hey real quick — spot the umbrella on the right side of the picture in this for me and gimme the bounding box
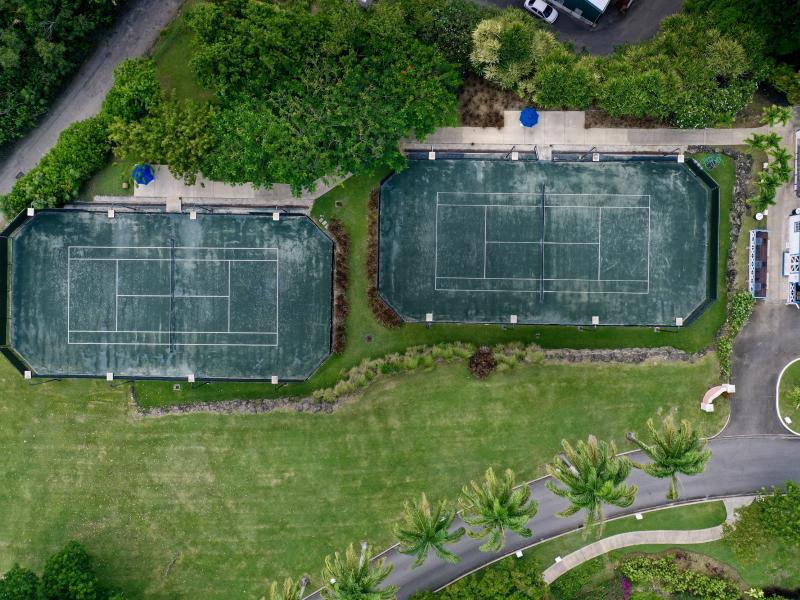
[517,109,537,128]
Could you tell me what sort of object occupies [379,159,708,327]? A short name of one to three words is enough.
tennis court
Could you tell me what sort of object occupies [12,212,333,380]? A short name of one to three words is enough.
tennis court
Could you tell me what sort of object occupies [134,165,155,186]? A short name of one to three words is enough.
umbrella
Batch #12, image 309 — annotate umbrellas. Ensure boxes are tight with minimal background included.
[134,165,155,186]
[517,109,537,128]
